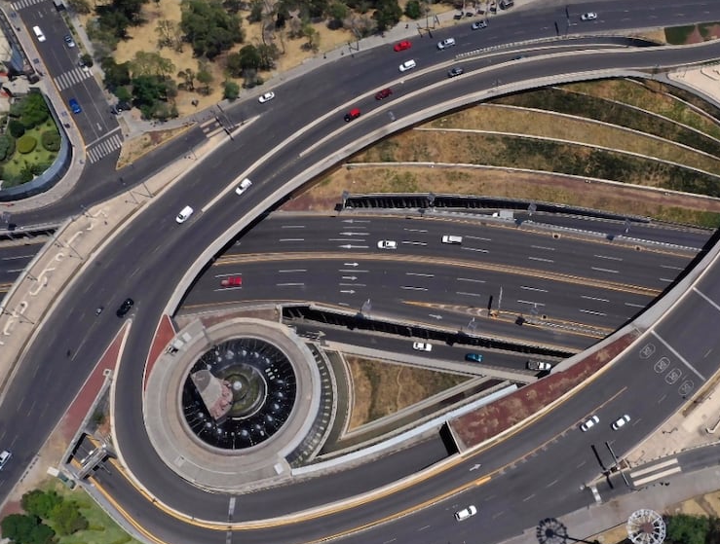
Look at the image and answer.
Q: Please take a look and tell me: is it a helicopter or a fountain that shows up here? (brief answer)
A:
fountain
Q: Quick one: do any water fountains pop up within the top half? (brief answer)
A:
No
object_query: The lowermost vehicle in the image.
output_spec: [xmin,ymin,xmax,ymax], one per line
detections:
[454,506,477,521]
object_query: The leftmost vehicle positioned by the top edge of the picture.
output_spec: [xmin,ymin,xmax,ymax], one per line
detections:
[33,25,45,41]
